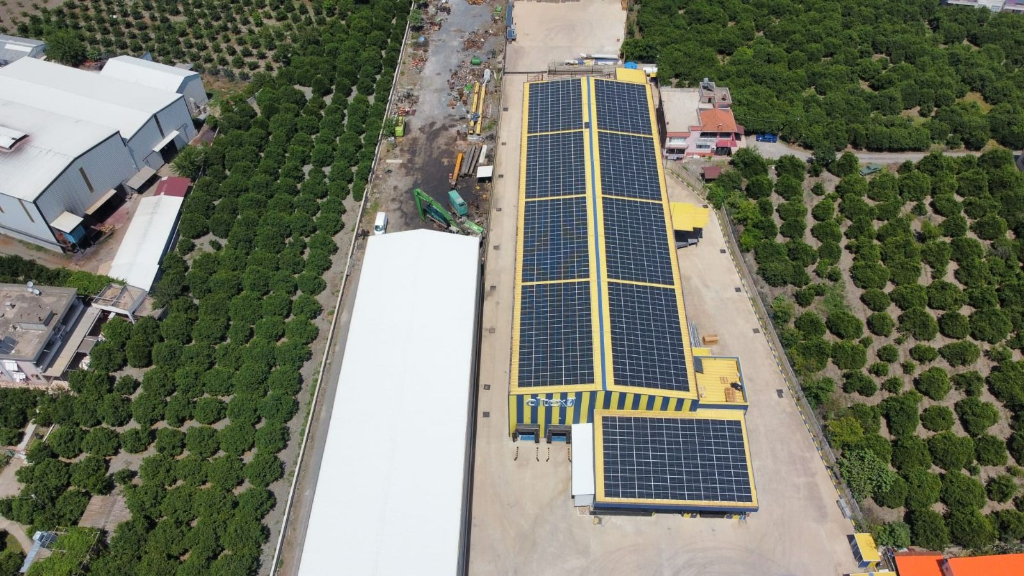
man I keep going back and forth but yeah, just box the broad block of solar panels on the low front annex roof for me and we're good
[602,416,753,503]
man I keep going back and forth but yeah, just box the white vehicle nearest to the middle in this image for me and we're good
[372,207,389,235]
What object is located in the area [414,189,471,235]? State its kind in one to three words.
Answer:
work vehicle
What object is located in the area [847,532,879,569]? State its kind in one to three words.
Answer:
shed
